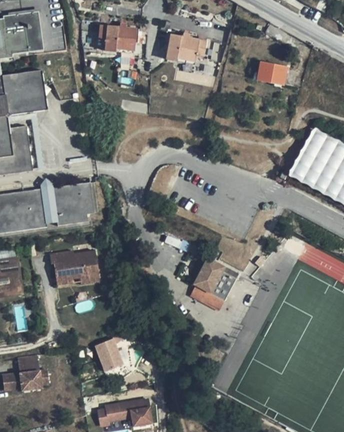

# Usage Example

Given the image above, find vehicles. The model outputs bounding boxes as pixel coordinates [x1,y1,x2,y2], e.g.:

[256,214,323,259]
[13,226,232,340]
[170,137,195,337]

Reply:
[178,197,187,208]
[192,20,200,27]
[306,8,316,20]
[52,15,64,21]
[208,186,216,196]
[50,10,62,15]
[165,28,175,34]
[212,24,223,30]
[0,393,9,398]
[196,178,204,188]
[52,22,62,27]
[165,236,188,250]
[313,12,322,22]
[300,6,308,16]
[179,305,188,314]
[179,168,186,178]
[191,204,198,214]
[170,192,178,202]
[26,118,32,128]
[184,198,194,211]
[200,22,212,28]
[192,174,200,186]
[184,170,192,182]
[170,298,179,308]
[204,184,212,194]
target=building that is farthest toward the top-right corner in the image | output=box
[258,62,290,86]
